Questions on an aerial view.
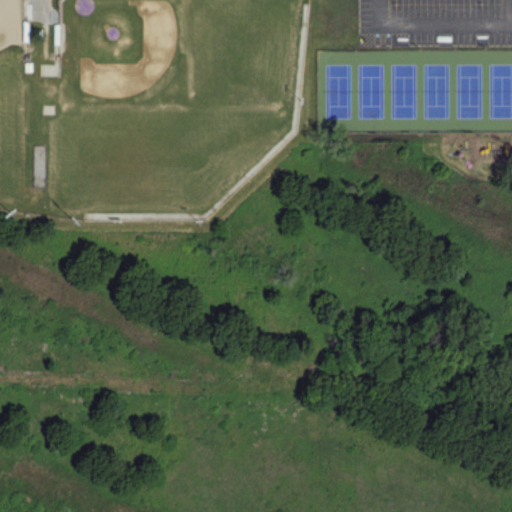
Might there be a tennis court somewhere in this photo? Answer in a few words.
Yes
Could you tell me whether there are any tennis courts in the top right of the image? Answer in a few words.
Yes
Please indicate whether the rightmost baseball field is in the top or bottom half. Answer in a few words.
top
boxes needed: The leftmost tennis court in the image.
[324,65,354,120]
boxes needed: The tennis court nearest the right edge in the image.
[490,65,512,120]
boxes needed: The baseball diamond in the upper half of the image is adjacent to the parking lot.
[60,0,303,214]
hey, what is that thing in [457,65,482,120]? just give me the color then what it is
blue tennis court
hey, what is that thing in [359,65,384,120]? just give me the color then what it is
blue tennis court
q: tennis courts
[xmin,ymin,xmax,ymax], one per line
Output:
[359,65,384,120]
[324,65,354,120]
[457,65,482,120]
[490,65,512,120]
[392,65,417,120]
[424,65,450,120]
